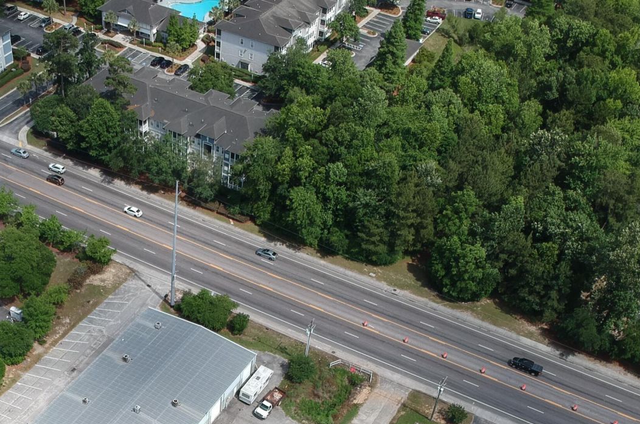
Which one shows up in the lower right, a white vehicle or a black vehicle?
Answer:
black vehicle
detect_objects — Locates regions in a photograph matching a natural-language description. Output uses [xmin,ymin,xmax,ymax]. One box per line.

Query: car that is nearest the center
[256,249,277,262]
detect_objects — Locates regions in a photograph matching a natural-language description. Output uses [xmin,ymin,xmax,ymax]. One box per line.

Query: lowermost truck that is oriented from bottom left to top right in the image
[258,390,283,417]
